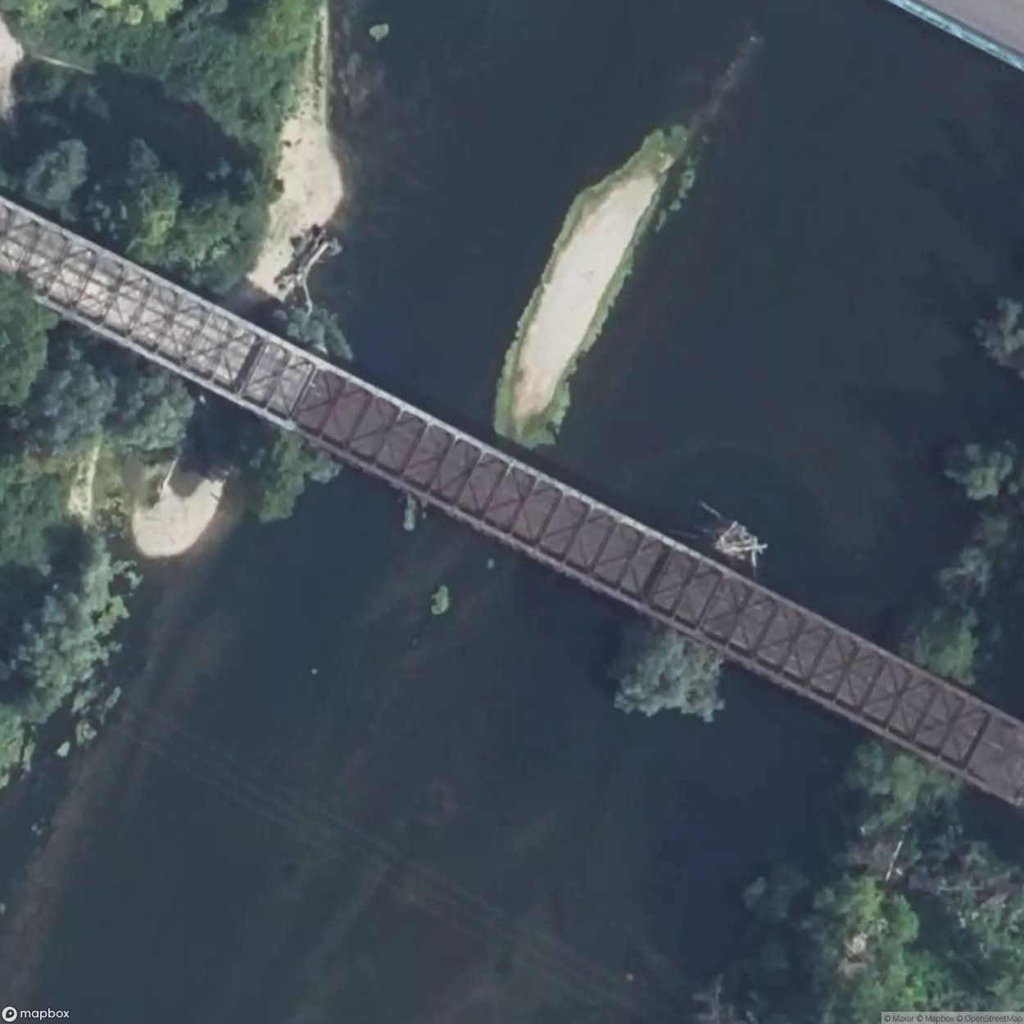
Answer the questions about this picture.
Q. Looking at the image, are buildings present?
No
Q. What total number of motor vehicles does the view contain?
0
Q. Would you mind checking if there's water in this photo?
Yes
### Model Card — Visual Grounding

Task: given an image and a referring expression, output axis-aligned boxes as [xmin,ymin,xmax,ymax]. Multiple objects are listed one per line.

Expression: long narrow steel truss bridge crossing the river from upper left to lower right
[0,198,1024,807]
